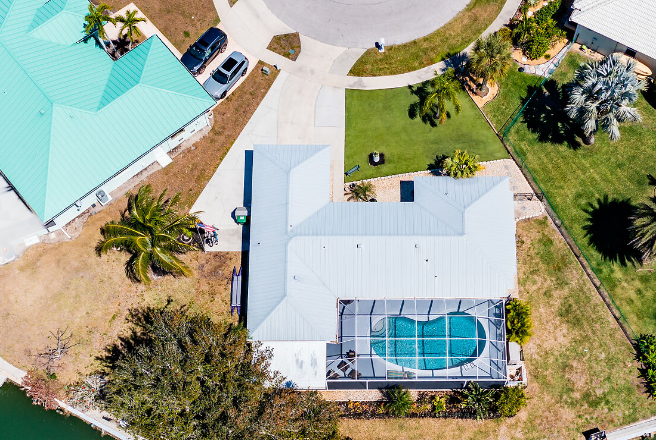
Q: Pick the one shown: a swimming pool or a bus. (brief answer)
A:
swimming pool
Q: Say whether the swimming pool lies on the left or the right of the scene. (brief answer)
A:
right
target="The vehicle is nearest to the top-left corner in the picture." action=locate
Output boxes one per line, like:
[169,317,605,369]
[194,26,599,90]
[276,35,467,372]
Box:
[181,27,229,77]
